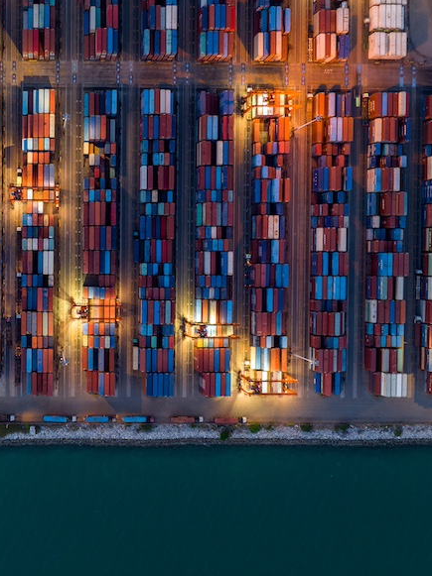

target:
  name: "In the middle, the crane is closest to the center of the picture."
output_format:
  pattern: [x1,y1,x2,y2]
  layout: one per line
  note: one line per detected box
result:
[186,318,245,341]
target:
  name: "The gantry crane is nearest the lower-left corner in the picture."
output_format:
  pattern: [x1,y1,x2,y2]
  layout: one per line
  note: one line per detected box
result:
[71,300,126,323]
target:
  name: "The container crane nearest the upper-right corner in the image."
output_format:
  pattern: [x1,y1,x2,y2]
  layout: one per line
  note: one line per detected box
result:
[242,88,304,119]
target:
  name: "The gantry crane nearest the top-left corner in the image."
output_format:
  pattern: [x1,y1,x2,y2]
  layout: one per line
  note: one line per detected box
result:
[9,184,63,209]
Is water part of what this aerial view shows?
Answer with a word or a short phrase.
Yes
